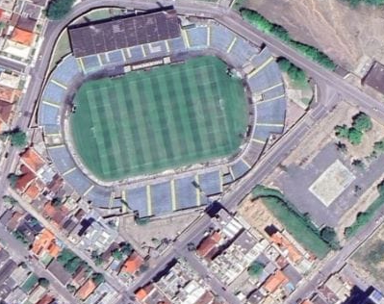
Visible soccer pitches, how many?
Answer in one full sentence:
In total, there is 1 soccer pitch in the scene.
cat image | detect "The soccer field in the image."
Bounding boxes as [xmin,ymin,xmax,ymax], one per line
[73,57,249,181]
